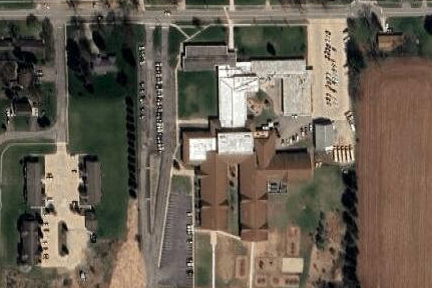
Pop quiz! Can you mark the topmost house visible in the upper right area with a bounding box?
[377,34,402,50]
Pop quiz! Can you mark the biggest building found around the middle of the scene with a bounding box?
[182,46,313,241]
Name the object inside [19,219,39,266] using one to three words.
building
